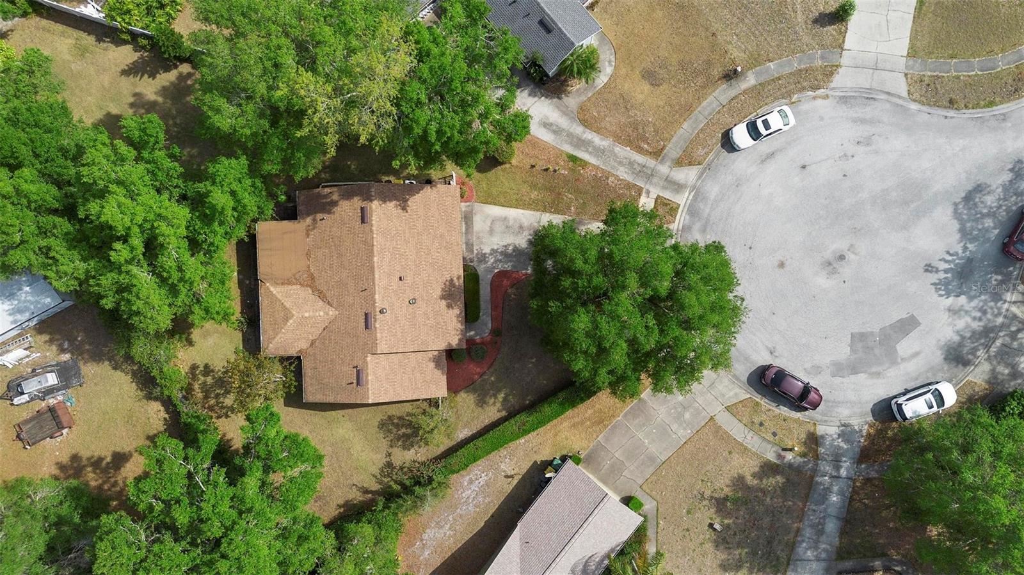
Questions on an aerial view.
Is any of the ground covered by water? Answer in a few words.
No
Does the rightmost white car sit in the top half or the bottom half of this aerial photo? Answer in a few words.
bottom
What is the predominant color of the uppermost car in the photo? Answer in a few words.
white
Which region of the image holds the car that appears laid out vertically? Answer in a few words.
right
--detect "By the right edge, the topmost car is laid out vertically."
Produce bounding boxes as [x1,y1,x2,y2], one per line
[1000,204,1024,260]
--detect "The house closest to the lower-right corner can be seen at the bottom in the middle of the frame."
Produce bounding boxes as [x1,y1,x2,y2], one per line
[466,458,645,575]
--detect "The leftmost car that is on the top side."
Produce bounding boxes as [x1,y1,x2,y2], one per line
[729,106,796,152]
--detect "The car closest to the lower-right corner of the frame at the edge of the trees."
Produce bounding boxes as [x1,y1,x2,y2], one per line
[890,381,955,423]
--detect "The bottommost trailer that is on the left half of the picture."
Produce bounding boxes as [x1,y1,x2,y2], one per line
[9,401,74,447]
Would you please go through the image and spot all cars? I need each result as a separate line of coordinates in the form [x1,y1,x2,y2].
[729,106,796,152]
[890,381,955,423]
[1000,204,1024,260]
[756,363,822,411]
